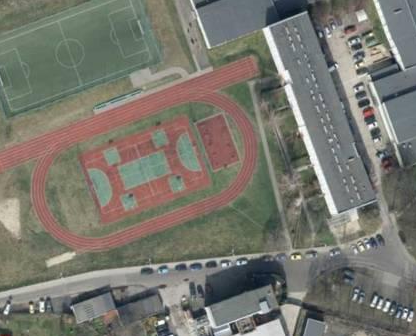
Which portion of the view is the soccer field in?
top left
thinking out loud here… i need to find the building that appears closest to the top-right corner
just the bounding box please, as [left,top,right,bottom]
[367,0,416,72]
